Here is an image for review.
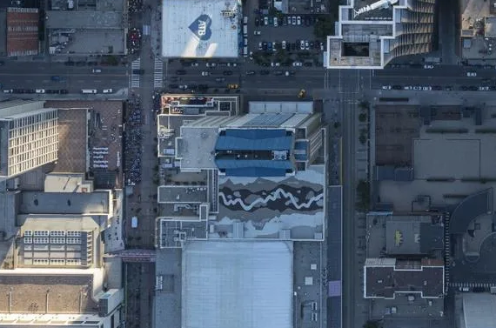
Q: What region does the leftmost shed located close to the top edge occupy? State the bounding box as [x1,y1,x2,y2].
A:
[7,8,44,55]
